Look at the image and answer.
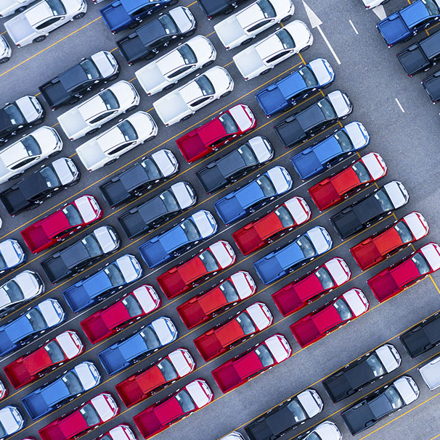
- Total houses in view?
none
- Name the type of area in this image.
parking lot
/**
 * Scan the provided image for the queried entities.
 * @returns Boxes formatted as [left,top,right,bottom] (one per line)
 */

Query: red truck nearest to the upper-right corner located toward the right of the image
[308,156,384,213]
